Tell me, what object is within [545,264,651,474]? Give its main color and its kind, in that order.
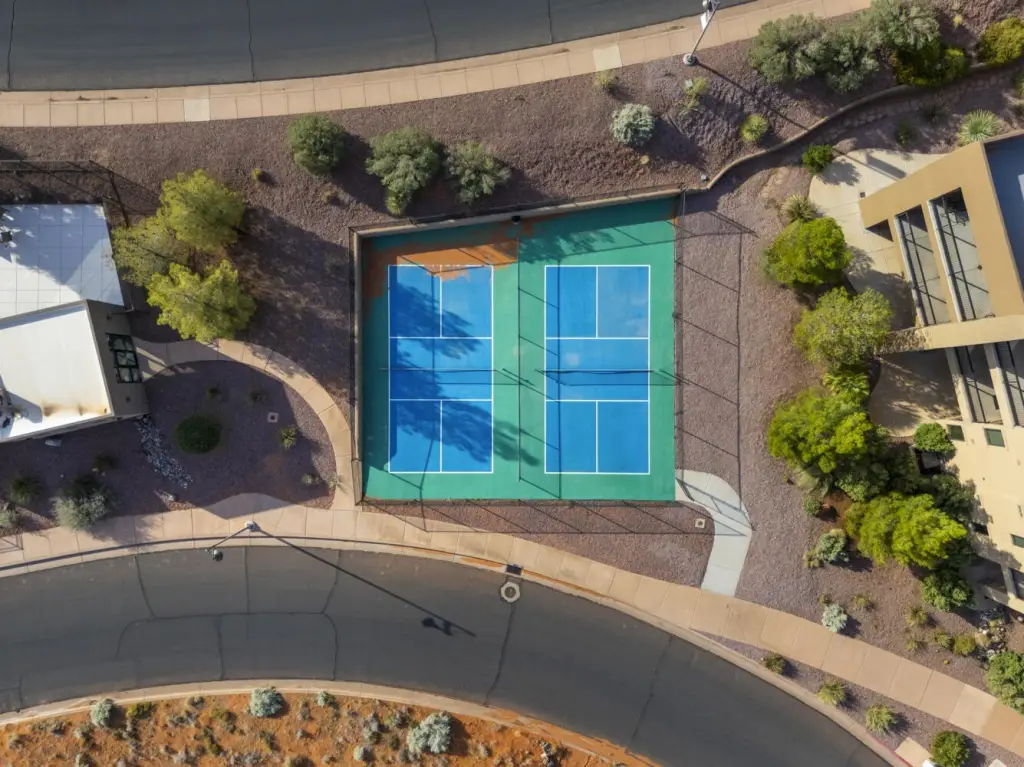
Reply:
blue sports court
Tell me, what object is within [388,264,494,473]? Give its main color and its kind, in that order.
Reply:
blue sports court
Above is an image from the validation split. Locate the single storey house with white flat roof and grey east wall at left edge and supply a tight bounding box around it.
[0,205,151,440]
